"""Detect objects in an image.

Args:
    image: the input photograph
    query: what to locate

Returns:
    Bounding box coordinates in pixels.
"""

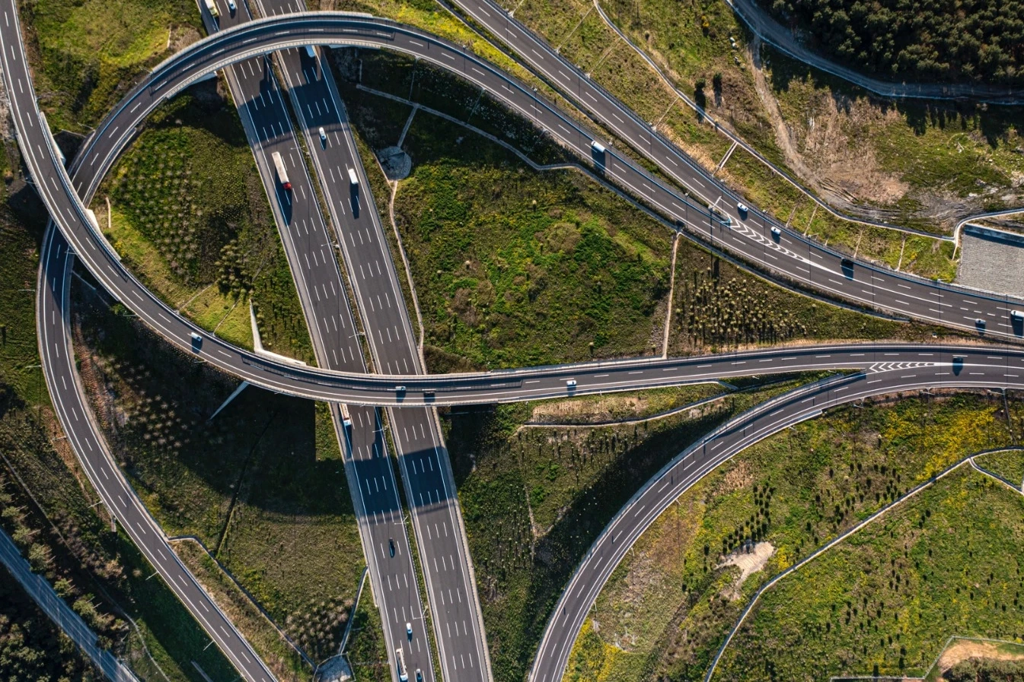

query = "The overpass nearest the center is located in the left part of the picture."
[211,300,516,419]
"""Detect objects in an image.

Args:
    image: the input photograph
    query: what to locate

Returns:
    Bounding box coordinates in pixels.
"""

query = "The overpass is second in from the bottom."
[13,118,138,299]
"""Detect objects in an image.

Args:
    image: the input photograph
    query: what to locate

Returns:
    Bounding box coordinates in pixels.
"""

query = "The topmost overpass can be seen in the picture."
[146,11,383,100]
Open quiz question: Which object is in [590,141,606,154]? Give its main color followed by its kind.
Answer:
white vehicle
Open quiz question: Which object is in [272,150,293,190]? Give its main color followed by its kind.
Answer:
white truck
